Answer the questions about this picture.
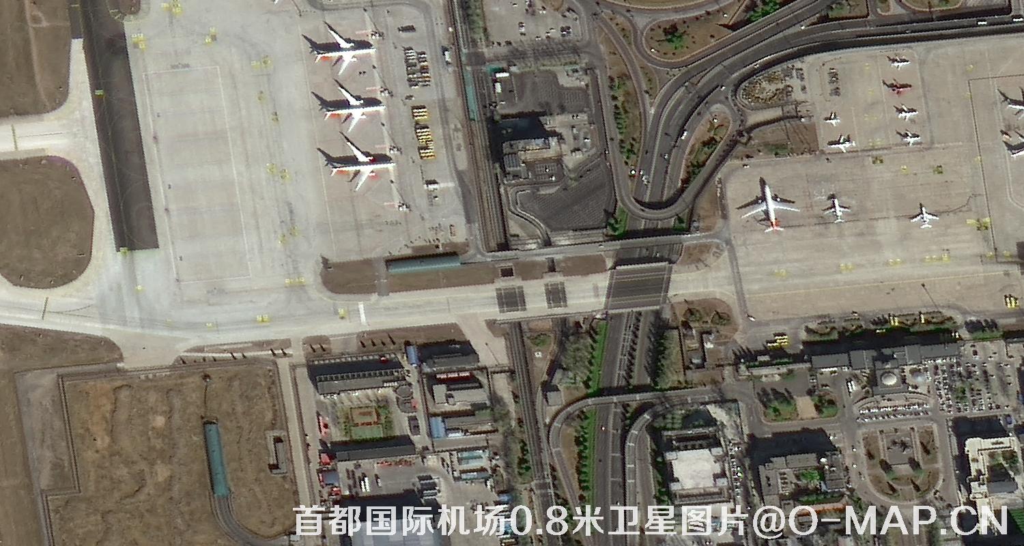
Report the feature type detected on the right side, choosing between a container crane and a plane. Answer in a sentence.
Visible on the right side is a plane.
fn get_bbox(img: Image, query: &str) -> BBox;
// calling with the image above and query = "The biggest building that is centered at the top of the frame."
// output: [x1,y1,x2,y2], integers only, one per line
[500,130,562,159]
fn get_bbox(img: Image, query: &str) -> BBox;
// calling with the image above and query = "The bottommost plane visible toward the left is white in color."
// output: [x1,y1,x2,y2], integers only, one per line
[331,140,396,195]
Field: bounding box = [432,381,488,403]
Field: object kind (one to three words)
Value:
building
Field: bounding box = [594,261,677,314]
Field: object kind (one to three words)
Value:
bridge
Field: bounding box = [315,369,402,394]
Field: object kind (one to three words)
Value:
building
